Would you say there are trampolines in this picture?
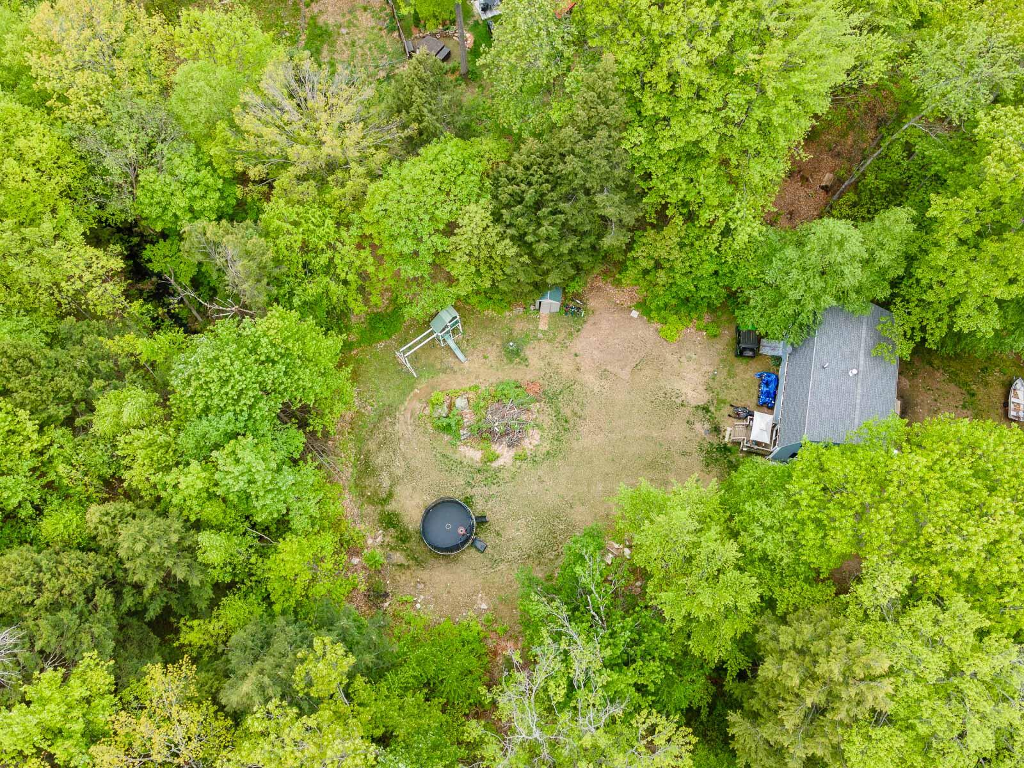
Yes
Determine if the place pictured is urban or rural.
rural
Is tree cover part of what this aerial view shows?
Yes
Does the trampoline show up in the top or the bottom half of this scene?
bottom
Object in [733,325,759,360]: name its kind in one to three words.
vehicle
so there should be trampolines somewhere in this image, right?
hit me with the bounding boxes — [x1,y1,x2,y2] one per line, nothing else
[419,499,475,557]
